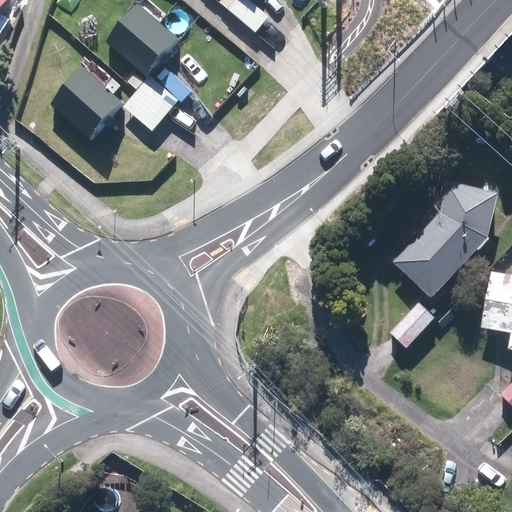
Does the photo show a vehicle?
Yes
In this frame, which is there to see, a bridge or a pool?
pool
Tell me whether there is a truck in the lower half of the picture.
Yes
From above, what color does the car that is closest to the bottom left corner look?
white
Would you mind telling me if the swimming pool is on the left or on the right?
left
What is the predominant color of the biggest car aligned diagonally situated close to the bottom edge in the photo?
white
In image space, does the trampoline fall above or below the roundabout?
below it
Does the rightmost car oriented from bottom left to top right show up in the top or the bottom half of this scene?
top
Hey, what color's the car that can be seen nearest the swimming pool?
white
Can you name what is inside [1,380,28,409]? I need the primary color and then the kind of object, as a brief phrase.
white car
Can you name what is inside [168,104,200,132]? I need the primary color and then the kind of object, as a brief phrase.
white truck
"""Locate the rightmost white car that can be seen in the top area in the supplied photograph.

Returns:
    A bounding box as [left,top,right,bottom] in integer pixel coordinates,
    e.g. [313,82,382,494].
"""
[318,140,344,164]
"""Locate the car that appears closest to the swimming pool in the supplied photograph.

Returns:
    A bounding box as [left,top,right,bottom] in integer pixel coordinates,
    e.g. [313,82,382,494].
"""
[180,54,207,84]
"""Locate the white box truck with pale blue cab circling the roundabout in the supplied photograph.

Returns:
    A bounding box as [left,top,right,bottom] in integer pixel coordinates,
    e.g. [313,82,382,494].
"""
[32,339,64,374]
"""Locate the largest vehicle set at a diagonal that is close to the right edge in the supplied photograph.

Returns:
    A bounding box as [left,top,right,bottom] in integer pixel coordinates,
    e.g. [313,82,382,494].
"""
[476,462,508,488]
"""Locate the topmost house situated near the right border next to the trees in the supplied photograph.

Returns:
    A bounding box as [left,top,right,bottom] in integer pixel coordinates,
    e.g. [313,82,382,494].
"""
[394,183,499,297]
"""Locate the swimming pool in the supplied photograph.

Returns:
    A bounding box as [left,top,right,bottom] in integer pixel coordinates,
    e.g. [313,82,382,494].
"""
[164,9,191,36]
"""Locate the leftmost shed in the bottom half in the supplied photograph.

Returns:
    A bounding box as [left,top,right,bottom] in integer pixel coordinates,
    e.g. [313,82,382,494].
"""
[391,303,434,347]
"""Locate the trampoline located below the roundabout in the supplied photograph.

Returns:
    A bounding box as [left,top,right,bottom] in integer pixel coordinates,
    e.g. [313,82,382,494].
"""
[94,488,119,512]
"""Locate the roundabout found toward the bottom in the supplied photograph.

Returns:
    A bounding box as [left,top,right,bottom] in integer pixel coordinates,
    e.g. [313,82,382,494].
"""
[54,284,166,388]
